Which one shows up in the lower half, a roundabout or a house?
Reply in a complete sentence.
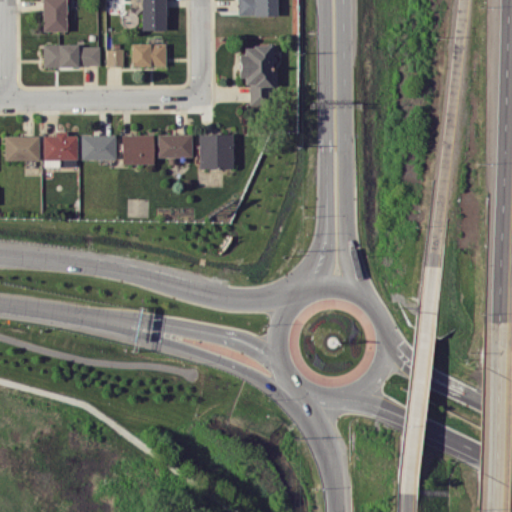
Looking in the lower half, you will find a roundabout.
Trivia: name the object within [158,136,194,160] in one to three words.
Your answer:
house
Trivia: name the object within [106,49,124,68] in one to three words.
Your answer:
building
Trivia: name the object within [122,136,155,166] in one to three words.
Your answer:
house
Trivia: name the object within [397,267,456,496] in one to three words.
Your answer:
overpass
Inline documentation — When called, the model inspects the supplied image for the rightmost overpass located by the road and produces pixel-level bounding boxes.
[481,322,512,512]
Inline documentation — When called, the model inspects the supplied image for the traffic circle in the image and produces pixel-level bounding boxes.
[272,282,395,404]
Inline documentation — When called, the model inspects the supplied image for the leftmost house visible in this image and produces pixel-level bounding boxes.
[4,137,41,162]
